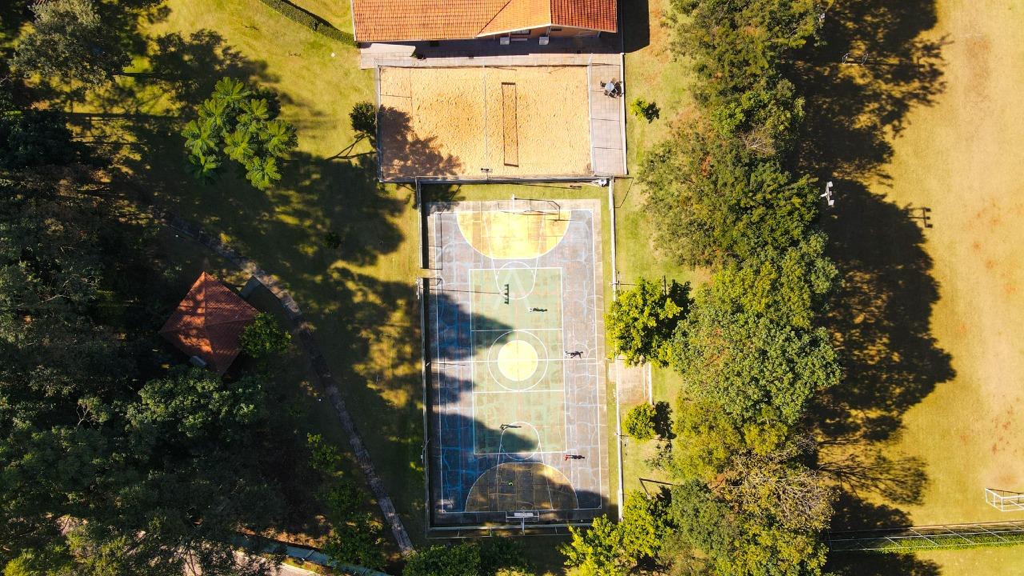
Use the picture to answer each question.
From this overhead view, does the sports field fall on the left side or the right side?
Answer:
right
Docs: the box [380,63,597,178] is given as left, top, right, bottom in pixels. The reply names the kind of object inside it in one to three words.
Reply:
sports court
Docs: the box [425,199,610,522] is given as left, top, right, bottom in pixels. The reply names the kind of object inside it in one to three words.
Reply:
sports court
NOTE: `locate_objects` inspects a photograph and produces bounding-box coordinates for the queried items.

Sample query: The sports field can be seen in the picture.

[872,34,1024,488]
